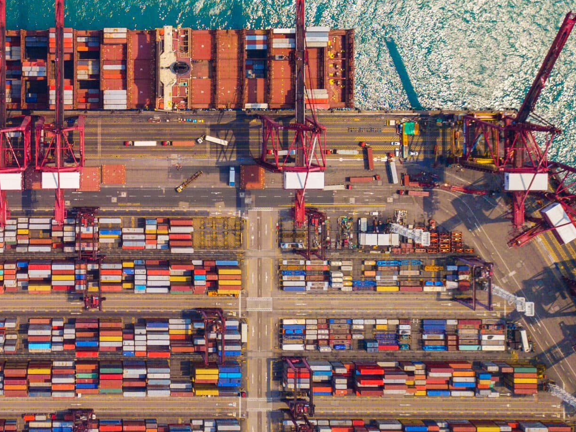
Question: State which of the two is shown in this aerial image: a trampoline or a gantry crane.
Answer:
gantry crane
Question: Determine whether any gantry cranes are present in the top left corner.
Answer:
Yes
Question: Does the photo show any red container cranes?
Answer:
Yes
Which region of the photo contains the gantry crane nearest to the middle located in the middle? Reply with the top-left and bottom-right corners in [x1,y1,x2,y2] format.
[292,207,325,265]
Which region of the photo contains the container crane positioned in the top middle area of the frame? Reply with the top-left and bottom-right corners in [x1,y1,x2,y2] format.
[255,0,327,233]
